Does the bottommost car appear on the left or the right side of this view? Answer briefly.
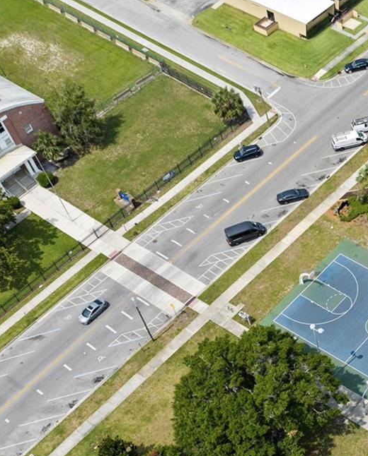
left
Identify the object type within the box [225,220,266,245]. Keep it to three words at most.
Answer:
vehicle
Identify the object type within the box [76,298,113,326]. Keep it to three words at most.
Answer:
car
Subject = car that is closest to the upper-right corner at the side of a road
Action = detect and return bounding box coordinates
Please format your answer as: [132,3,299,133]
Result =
[345,59,368,73]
